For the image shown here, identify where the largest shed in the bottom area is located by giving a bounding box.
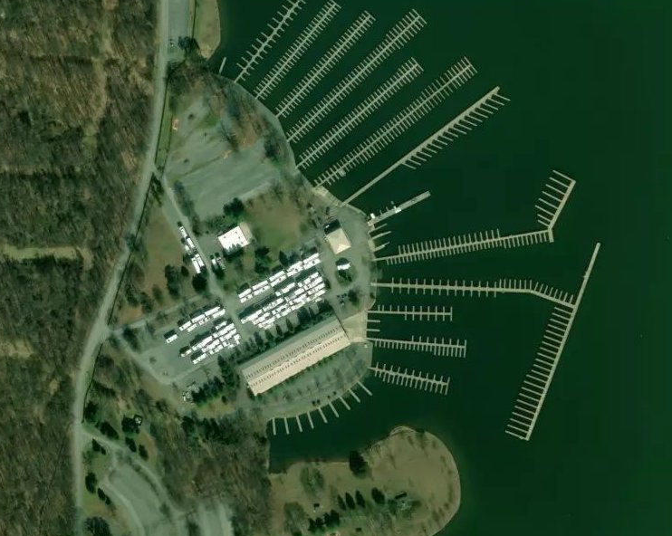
[239,316,350,395]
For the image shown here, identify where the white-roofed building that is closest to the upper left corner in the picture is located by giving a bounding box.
[220,223,255,252]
